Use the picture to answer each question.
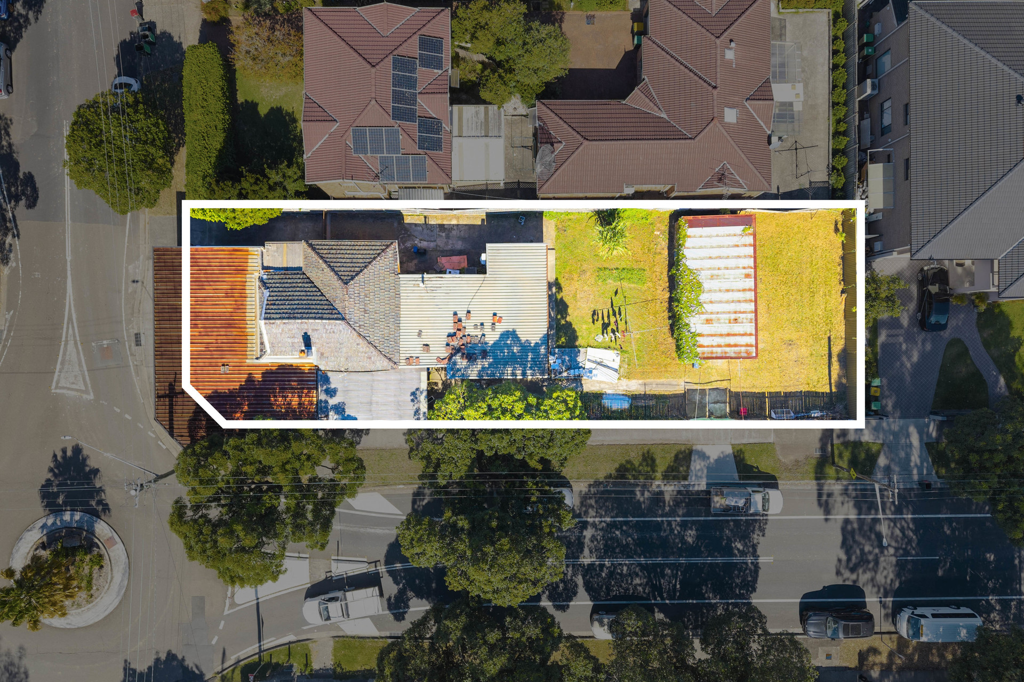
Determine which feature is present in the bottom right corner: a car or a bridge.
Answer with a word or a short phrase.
car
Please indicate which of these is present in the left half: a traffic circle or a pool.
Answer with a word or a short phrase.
traffic circle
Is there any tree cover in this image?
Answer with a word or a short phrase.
Yes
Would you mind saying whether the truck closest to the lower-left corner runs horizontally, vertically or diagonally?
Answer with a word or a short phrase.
horizontally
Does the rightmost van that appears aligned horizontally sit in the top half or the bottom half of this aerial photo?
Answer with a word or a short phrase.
bottom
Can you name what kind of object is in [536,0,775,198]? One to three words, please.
house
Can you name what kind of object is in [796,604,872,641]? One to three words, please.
car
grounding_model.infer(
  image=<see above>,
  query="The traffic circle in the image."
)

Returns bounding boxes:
[10,510,129,629]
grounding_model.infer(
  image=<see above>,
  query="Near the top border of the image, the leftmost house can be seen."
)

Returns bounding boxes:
[301,1,453,198]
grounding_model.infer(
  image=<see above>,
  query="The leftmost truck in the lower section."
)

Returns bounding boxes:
[302,582,386,624]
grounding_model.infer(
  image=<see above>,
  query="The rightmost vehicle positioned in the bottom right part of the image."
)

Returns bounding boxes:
[889,603,985,641]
